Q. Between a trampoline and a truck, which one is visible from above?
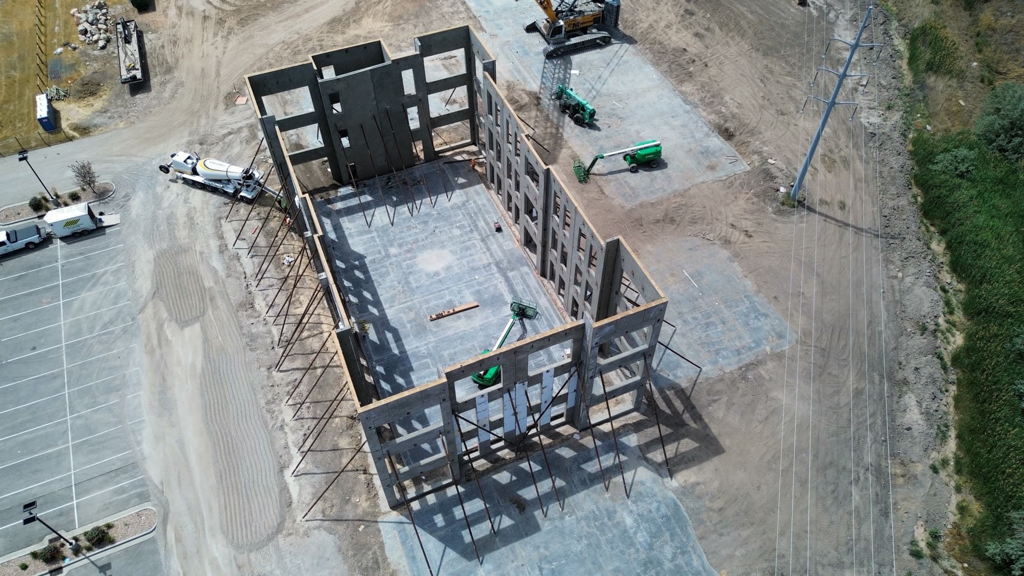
truck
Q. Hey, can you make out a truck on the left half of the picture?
Yes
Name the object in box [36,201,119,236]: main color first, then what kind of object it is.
white trailer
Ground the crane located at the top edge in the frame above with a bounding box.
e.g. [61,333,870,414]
[526,0,624,54]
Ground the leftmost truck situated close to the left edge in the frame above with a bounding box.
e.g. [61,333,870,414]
[0,227,41,255]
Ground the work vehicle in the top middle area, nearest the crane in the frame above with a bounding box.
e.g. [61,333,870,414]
[547,89,598,124]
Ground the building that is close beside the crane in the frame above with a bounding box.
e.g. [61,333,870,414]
[245,24,668,514]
